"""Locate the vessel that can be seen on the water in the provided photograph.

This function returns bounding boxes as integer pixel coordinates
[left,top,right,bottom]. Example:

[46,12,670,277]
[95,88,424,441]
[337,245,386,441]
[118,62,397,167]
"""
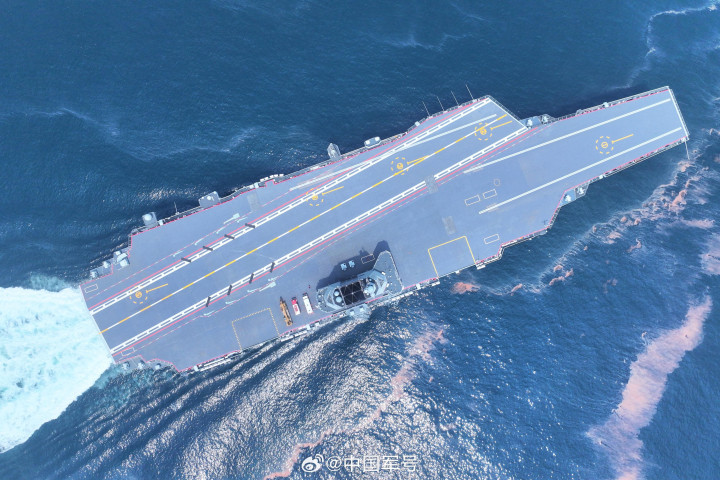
[80,86,689,375]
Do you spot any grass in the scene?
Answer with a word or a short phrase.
No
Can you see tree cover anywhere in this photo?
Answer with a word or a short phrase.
No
